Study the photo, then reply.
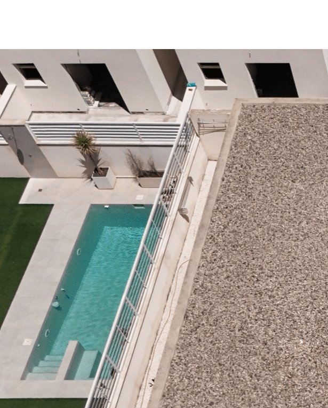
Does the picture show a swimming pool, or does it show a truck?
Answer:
swimming pool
